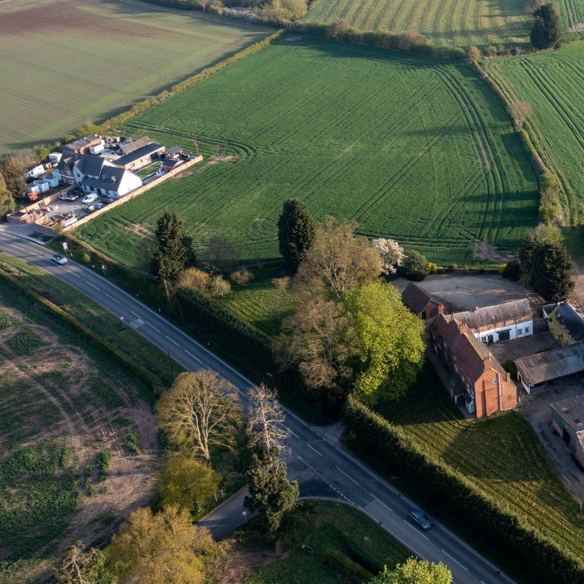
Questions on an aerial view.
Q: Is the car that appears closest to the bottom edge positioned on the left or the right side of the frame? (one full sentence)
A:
It is on the right.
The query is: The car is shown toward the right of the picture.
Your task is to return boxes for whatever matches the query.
[408,506,433,530]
